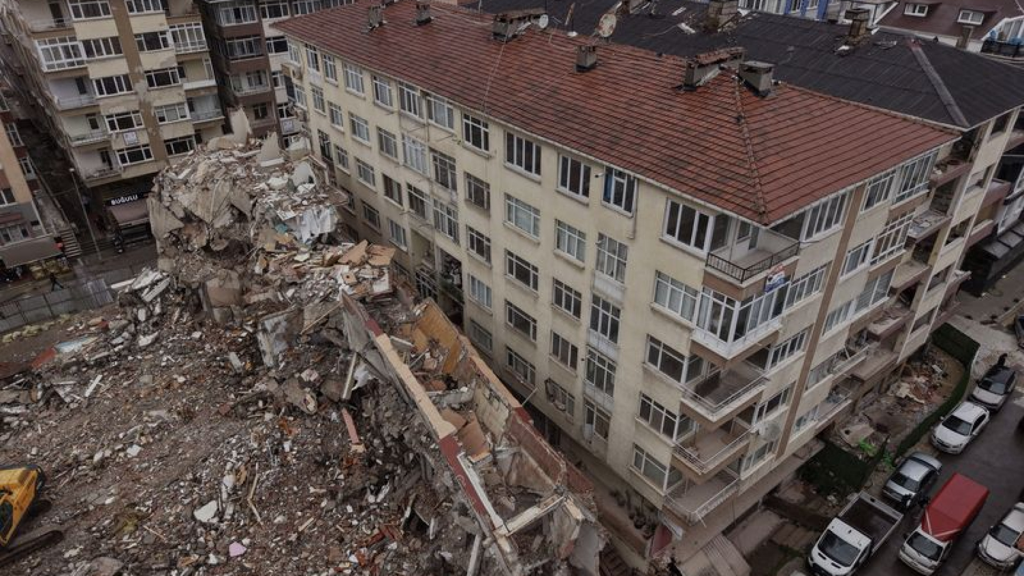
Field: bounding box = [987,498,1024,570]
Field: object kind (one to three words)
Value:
car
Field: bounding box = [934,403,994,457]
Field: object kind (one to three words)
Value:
car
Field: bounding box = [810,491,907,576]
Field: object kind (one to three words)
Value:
truck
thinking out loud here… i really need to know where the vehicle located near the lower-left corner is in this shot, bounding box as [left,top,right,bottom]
[0,462,60,574]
